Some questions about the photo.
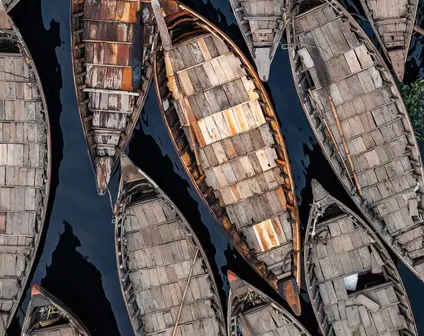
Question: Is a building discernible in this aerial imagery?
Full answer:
No, I can see no building in this picture.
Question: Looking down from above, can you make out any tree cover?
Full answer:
No, the scene doesn't show any tree cover.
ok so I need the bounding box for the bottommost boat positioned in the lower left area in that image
[20,279,90,336]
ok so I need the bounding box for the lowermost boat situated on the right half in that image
[220,265,312,336]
